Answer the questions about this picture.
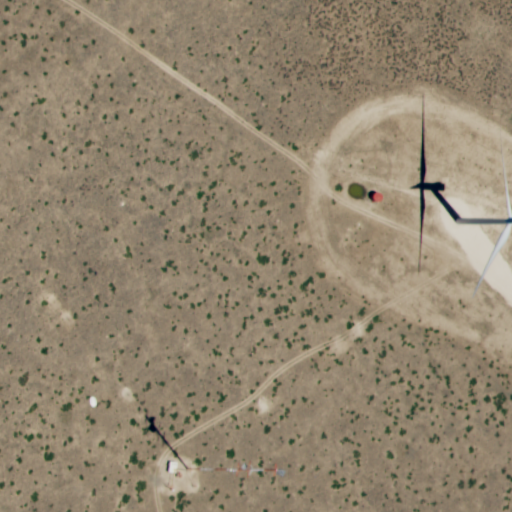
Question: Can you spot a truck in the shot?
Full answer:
No, there isn't any truck down there.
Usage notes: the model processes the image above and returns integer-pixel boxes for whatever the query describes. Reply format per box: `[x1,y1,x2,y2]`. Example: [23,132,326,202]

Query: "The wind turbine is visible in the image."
[454,214,512,292]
